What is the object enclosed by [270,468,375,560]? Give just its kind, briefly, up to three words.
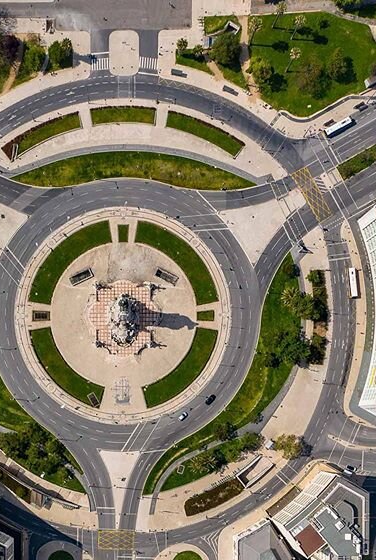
building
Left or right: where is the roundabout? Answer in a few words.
left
